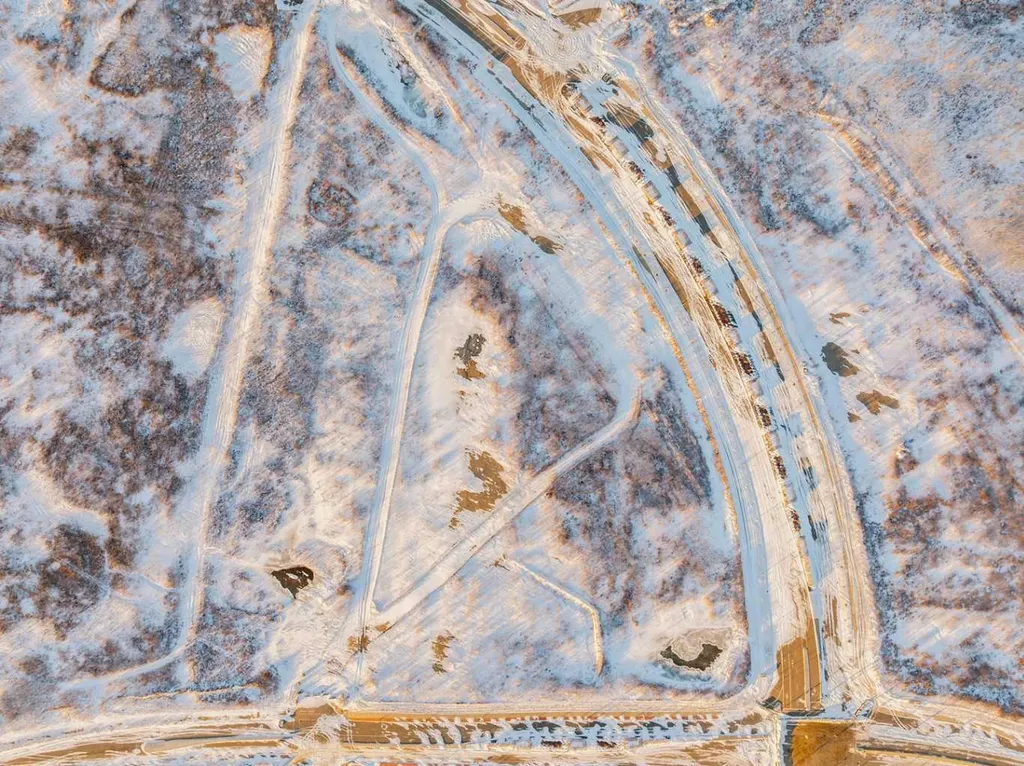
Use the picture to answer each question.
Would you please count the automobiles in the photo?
0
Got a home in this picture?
No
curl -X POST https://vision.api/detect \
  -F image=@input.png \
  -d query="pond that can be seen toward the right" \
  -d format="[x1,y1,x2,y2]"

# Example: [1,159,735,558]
[659,626,731,672]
